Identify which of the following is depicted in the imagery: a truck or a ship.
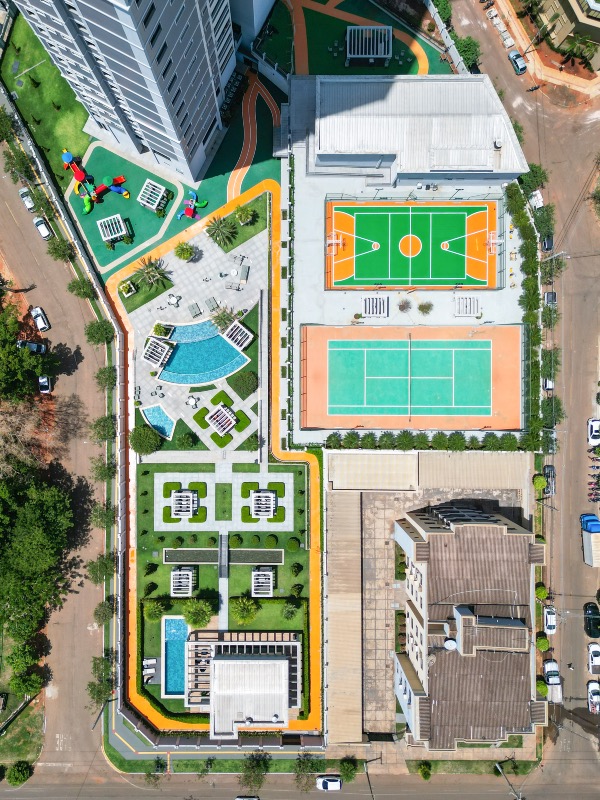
truck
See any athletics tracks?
Yes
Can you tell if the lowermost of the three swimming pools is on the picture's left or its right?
left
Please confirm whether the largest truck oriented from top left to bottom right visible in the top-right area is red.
No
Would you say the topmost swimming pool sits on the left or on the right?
left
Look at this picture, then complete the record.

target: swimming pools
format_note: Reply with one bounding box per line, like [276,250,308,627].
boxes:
[162,616,191,698]
[156,315,252,384]
[141,403,176,440]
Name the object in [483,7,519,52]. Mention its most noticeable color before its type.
white truck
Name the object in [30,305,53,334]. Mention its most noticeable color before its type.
white car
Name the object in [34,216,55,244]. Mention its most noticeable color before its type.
white car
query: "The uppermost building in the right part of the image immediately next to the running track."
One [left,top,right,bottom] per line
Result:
[316,75,529,184]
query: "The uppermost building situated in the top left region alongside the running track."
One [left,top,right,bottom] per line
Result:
[12,0,238,181]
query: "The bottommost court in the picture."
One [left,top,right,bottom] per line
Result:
[302,326,522,428]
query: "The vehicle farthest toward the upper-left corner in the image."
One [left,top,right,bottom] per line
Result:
[17,187,38,215]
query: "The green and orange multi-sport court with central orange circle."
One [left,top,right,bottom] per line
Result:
[326,201,497,290]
